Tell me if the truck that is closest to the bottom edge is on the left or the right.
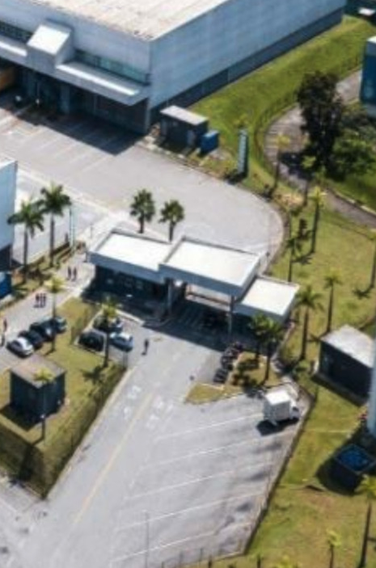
right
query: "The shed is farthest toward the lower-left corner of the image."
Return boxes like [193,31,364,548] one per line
[10,355,66,420]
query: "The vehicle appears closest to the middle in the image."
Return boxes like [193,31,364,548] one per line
[208,311,223,331]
